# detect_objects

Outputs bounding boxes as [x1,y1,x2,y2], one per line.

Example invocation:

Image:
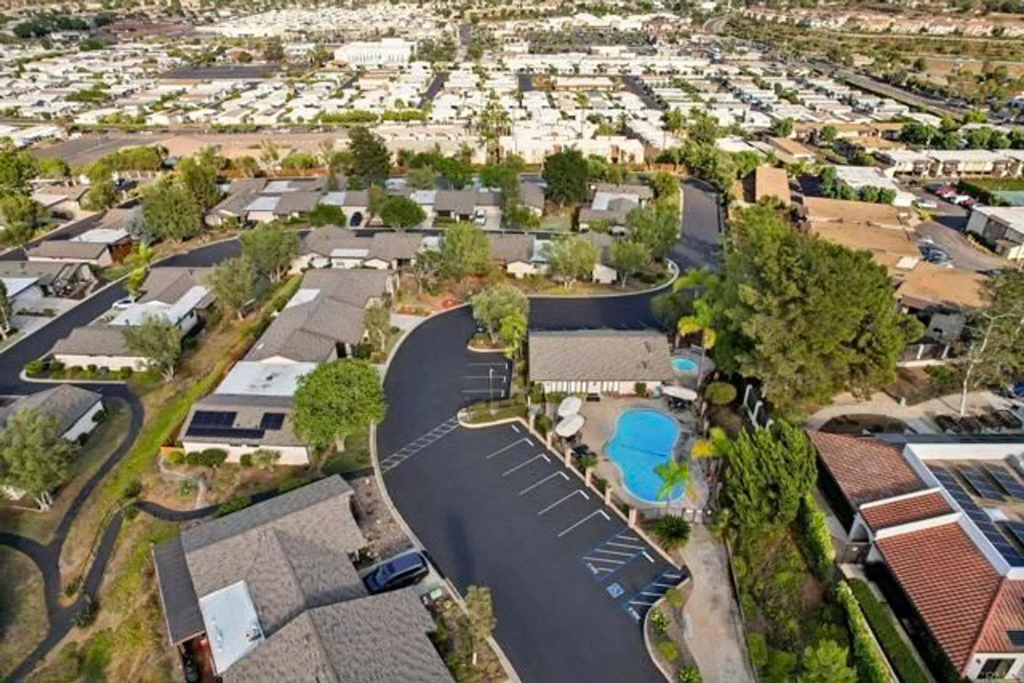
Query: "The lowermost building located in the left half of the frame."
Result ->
[153,478,459,683]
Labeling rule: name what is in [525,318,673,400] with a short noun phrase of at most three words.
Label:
building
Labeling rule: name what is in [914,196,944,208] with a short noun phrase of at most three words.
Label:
vehicle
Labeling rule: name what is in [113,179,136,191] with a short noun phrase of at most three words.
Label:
vehicle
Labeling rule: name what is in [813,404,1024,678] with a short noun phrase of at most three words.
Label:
building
